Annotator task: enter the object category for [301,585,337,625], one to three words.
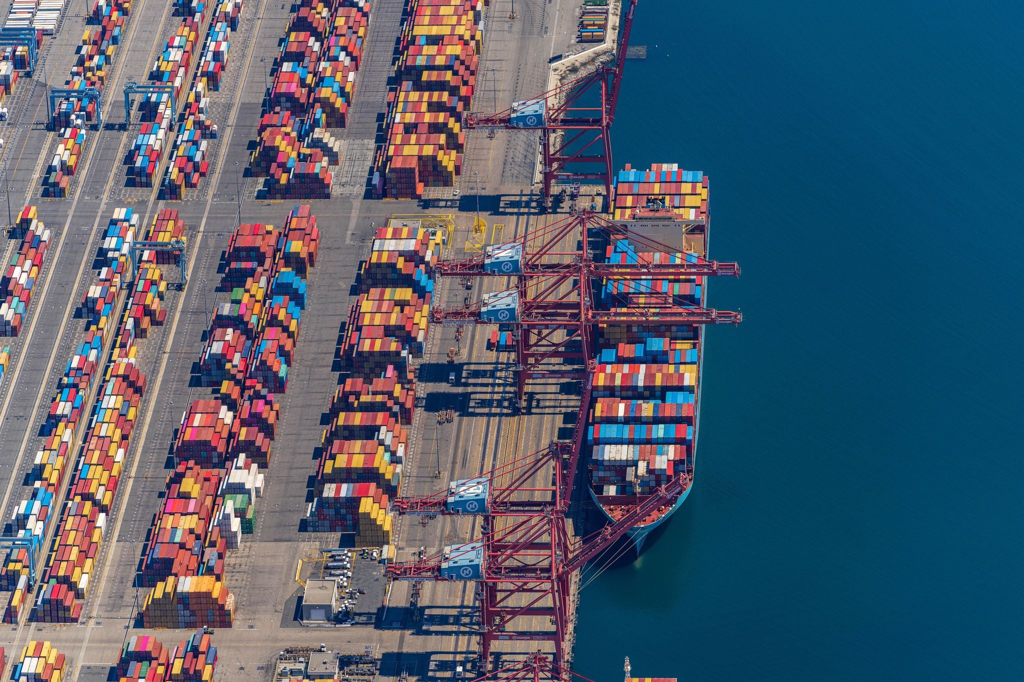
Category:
building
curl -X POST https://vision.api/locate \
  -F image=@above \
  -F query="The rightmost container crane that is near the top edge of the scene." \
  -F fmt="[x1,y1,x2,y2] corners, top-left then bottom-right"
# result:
[462,0,635,215]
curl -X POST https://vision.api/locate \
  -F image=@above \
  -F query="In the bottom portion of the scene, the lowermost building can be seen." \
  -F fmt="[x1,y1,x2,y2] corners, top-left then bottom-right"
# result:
[304,652,342,682]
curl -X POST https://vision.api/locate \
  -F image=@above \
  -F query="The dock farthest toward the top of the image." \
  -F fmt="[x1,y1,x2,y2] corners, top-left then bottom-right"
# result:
[615,46,647,63]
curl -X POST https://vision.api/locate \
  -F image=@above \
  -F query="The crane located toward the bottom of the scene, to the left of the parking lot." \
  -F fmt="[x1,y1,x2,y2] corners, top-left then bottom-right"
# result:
[0,533,36,593]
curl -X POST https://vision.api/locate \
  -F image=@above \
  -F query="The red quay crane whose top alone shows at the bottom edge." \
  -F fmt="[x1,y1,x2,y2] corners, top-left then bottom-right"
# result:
[466,648,619,682]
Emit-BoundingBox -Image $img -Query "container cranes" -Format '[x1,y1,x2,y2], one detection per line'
[395,359,599,613]
[466,648,619,682]
[462,0,635,215]
[127,235,187,289]
[47,82,102,132]
[121,82,176,132]
[437,205,747,366]
[0,533,36,593]
[428,252,745,415]
[383,464,684,681]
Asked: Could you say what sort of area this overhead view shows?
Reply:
port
